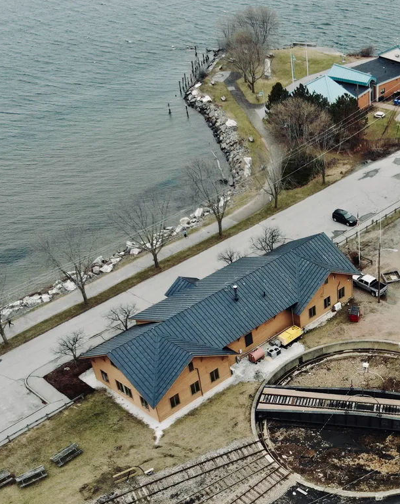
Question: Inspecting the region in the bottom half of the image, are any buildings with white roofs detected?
No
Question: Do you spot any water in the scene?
Yes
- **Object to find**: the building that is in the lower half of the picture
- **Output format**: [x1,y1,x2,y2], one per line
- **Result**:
[85,235,361,422]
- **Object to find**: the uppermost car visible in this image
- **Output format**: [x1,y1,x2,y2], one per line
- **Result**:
[331,208,359,226]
